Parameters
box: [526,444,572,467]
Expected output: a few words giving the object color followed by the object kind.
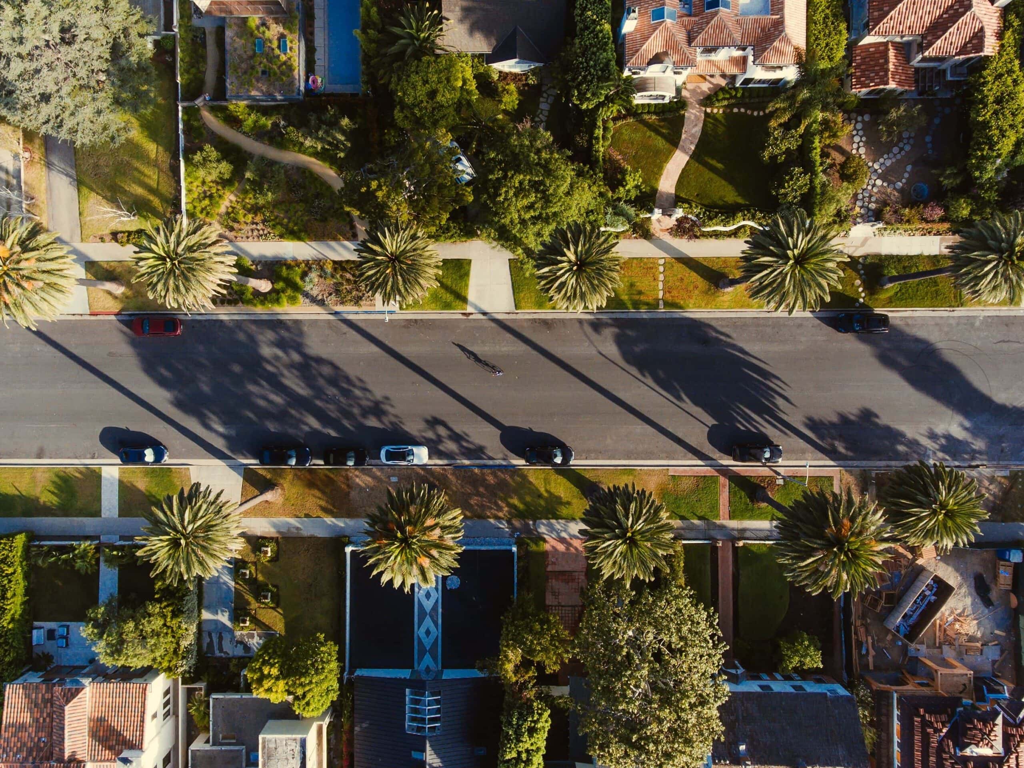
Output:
black car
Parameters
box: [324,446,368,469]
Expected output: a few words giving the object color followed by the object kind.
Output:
black car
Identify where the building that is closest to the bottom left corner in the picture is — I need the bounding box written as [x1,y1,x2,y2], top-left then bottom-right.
[0,655,172,768]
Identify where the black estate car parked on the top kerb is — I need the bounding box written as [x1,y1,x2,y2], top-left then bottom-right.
[838,311,889,334]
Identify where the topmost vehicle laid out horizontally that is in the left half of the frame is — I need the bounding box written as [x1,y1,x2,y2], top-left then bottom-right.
[133,315,183,338]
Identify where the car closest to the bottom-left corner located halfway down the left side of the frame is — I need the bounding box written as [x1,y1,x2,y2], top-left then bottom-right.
[119,444,170,467]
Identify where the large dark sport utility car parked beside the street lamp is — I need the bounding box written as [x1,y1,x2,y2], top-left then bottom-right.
[731,442,780,466]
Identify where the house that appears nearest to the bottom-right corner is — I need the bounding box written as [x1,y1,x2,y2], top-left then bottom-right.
[859,656,1024,768]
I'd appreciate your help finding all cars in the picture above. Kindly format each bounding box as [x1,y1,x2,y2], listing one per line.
[526,444,572,467]
[731,442,780,466]
[260,445,311,469]
[838,311,889,334]
[133,315,183,338]
[324,446,368,469]
[119,444,170,467]
[381,444,428,467]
